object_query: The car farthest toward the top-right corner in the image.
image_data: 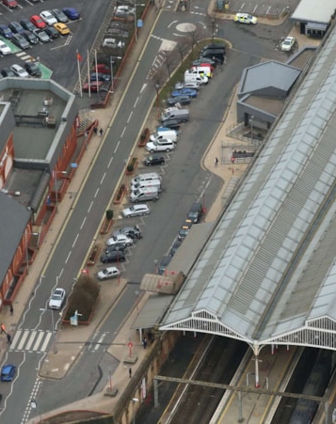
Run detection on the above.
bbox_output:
[282,36,294,50]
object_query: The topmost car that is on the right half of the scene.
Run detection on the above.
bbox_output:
[232,11,259,25]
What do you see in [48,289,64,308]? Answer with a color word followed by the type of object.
white car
